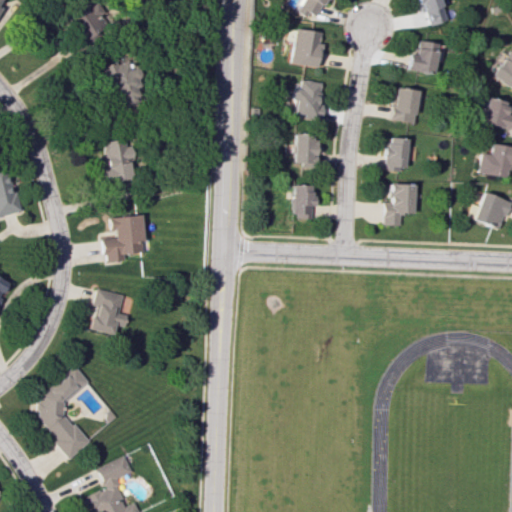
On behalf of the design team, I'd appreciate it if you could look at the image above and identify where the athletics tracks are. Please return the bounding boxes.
[371,331,512,512]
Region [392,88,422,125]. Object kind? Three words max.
house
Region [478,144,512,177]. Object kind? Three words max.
house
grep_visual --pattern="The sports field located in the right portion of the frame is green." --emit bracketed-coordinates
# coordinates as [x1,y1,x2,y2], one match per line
[388,354,512,512]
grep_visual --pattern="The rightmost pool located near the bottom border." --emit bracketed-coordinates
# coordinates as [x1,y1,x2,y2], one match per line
[127,480,148,501]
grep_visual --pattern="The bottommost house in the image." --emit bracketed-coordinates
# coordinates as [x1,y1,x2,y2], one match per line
[90,454,140,512]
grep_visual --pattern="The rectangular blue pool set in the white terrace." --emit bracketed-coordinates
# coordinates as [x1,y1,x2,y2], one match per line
[78,390,102,414]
